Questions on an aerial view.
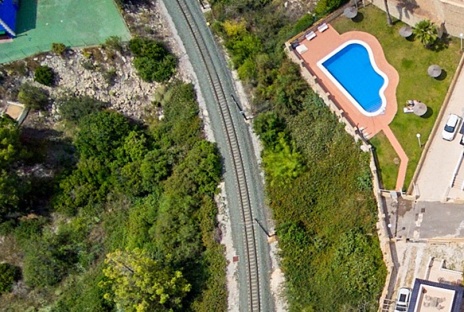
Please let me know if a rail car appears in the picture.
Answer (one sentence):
No, no rail car can be seen from above.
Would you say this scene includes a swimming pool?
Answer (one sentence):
Yes, you can see a swimming pool in this photo.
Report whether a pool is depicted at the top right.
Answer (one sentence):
Yes, a pool can be seen at the top right.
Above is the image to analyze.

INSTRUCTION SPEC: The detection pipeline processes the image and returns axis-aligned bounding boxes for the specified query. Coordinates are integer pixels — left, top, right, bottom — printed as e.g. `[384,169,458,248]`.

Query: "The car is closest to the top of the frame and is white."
[442,111,461,139]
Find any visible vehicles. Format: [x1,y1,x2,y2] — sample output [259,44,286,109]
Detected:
[442,111,461,139]
[393,286,411,312]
